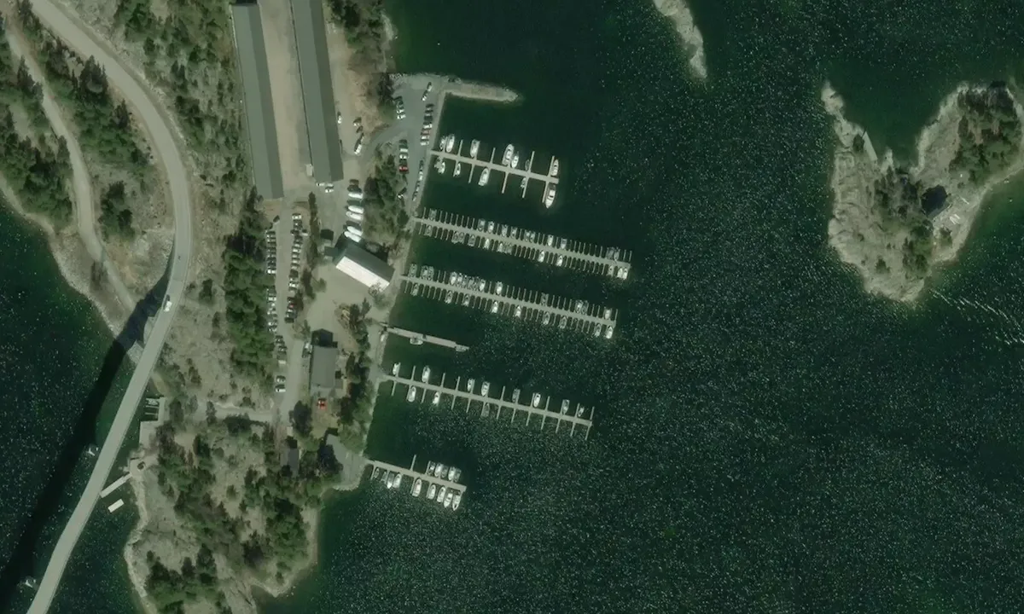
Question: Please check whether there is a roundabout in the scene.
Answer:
No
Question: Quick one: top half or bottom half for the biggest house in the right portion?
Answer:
top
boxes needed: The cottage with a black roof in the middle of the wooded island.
[920,190,949,218]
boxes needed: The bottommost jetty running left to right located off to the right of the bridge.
[366,455,467,502]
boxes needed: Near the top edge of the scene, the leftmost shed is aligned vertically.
[232,3,284,199]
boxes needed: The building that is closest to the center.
[335,243,395,294]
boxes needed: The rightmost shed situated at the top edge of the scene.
[292,0,344,182]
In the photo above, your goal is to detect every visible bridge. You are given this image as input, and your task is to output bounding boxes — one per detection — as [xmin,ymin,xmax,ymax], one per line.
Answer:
[24,238,190,614]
